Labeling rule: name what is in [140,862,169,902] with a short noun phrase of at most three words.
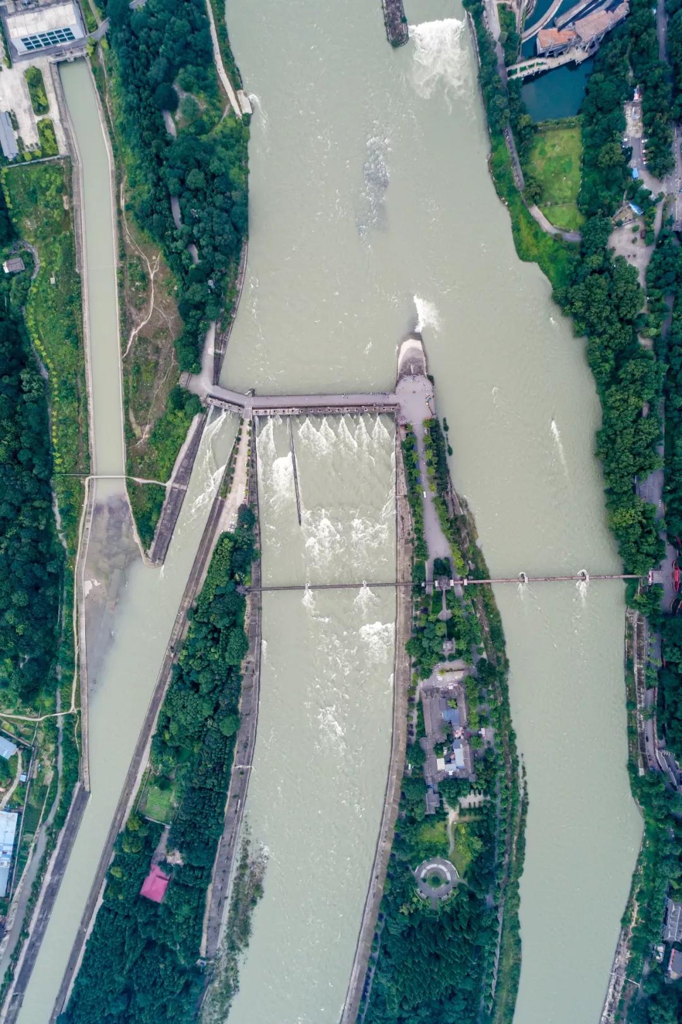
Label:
house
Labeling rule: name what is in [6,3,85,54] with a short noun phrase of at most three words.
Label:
building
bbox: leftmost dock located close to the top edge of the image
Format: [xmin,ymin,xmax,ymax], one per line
[382,0,408,49]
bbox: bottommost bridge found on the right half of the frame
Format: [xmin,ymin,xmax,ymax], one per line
[240,569,653,593]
